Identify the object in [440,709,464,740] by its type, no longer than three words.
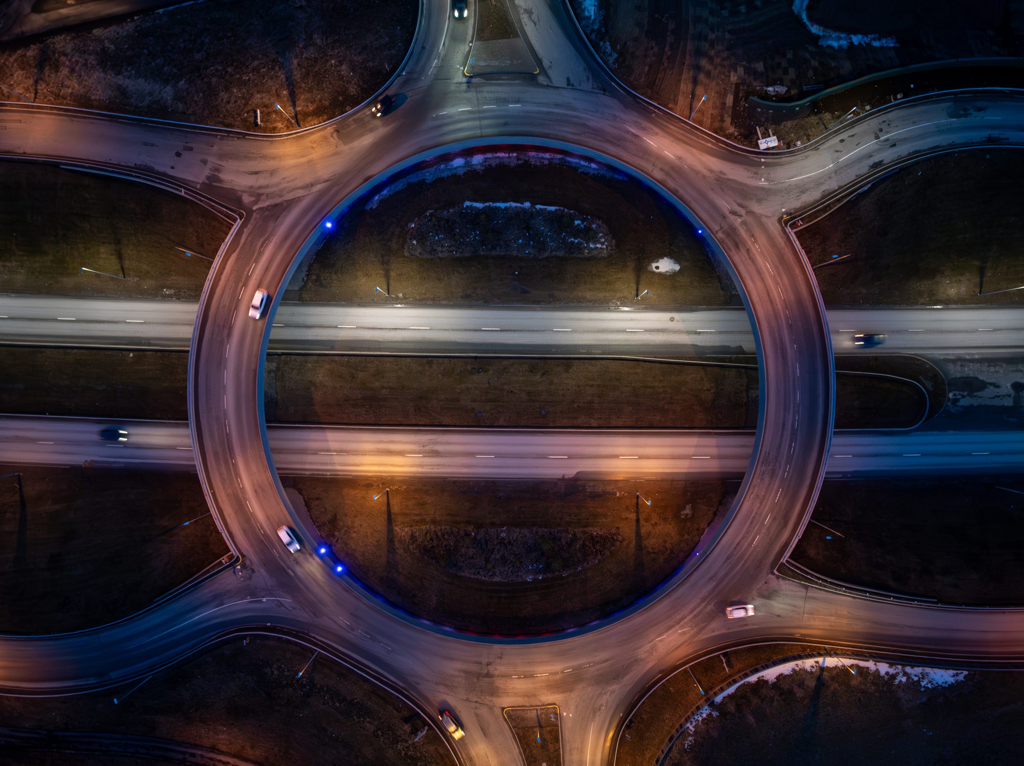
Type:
car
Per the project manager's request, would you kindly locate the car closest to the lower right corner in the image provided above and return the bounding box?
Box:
[725,604,755,619]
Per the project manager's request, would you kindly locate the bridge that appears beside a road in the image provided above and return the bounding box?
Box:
[184,96,840,687]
